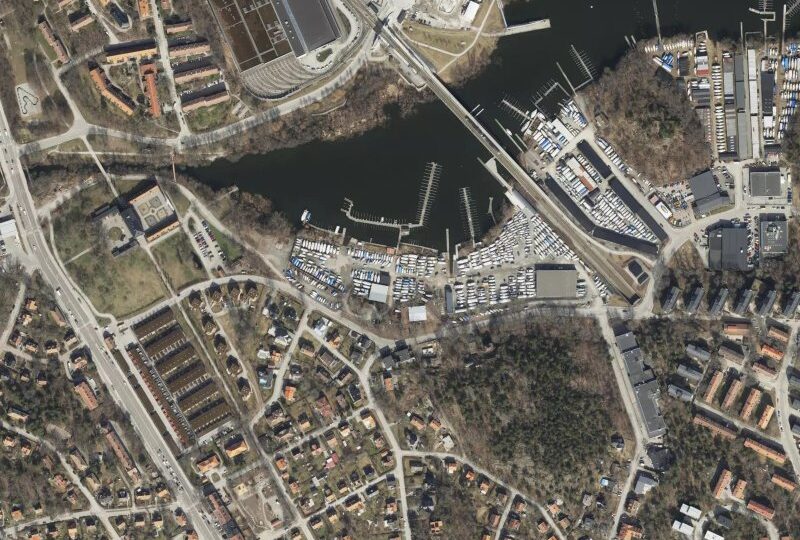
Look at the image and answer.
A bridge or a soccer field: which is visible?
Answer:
bridge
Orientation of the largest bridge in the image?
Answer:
on a diagonal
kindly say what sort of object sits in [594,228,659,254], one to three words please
shed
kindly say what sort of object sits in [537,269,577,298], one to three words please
shed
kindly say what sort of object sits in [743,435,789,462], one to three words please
building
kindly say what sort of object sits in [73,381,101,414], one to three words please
building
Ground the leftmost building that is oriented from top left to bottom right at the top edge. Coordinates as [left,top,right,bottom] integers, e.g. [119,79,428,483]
[38,22,69,61]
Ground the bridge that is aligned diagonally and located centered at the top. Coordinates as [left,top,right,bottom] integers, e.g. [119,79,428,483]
[419,65,525,181]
